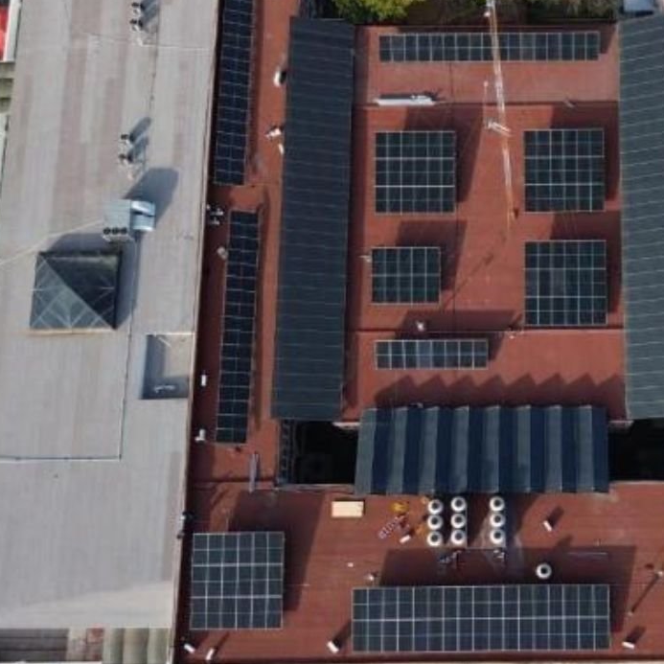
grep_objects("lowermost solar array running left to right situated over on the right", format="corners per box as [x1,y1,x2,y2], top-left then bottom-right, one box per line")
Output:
[352,580,609,653]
